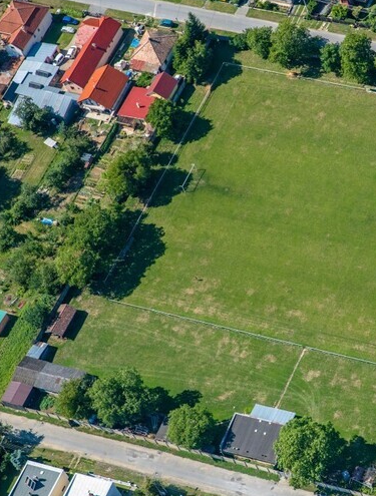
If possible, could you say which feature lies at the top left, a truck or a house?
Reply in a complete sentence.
The feature located at the top left is a house.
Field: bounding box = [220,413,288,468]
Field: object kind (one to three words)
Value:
building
